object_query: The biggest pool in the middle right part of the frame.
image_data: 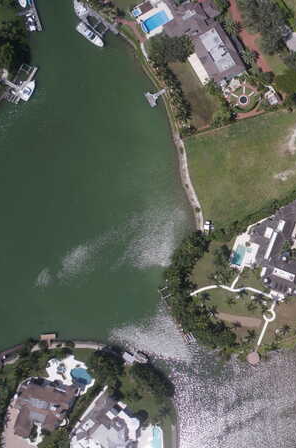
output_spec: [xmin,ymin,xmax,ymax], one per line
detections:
[230,246,248,267]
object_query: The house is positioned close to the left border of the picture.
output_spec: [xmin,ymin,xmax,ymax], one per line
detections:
[14,378,81,438]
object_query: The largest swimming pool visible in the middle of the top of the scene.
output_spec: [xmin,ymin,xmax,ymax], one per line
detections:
[143,9,171,32]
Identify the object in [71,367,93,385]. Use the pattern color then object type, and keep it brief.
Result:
blue swimming pool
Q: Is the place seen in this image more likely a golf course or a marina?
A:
marina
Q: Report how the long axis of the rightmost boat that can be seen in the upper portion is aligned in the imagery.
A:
on a diagonal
